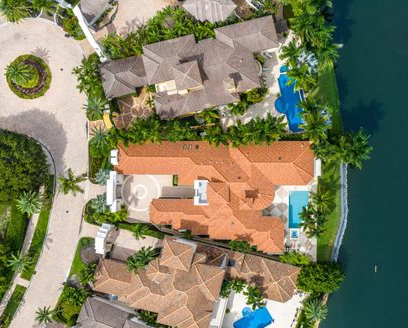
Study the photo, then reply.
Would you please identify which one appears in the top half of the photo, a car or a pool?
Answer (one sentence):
It is a pool that can be seen in the top half of the photo.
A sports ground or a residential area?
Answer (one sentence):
The picture captures a residential area.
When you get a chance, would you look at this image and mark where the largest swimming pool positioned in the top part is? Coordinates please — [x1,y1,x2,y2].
[272,72,306,134]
